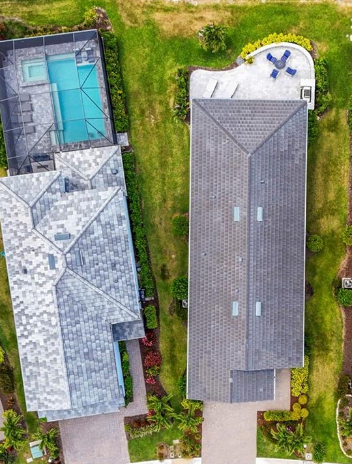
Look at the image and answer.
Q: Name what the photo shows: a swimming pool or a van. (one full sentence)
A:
Of the two, only a swimming pool appears.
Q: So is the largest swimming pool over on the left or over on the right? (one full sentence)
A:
You can find the largest swimming pool on the left side of the picture.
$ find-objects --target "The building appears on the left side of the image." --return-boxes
[0,144,147,420]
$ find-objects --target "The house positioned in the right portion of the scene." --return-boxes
[186,98,309,404]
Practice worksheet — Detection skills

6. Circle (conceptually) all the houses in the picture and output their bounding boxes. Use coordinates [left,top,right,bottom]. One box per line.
[186,98,309,404]
[0,144,147,420]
